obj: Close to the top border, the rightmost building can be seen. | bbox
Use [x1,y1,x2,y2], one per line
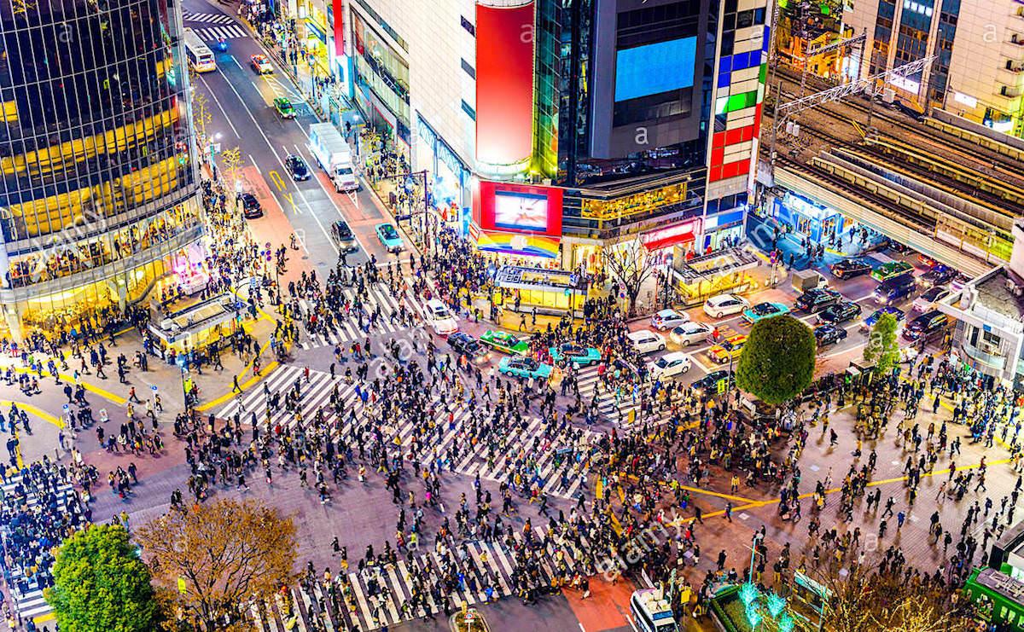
[847,0,1024,161]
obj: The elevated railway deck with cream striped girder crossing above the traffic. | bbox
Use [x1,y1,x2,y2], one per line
[757,83,1024,283]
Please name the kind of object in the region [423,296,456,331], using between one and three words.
car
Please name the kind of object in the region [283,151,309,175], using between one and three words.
car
